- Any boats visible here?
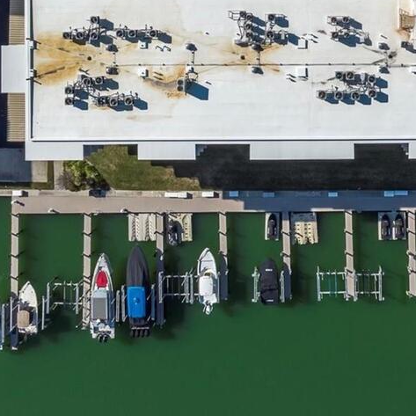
Yes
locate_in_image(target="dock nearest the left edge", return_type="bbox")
[7,214,25,349]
